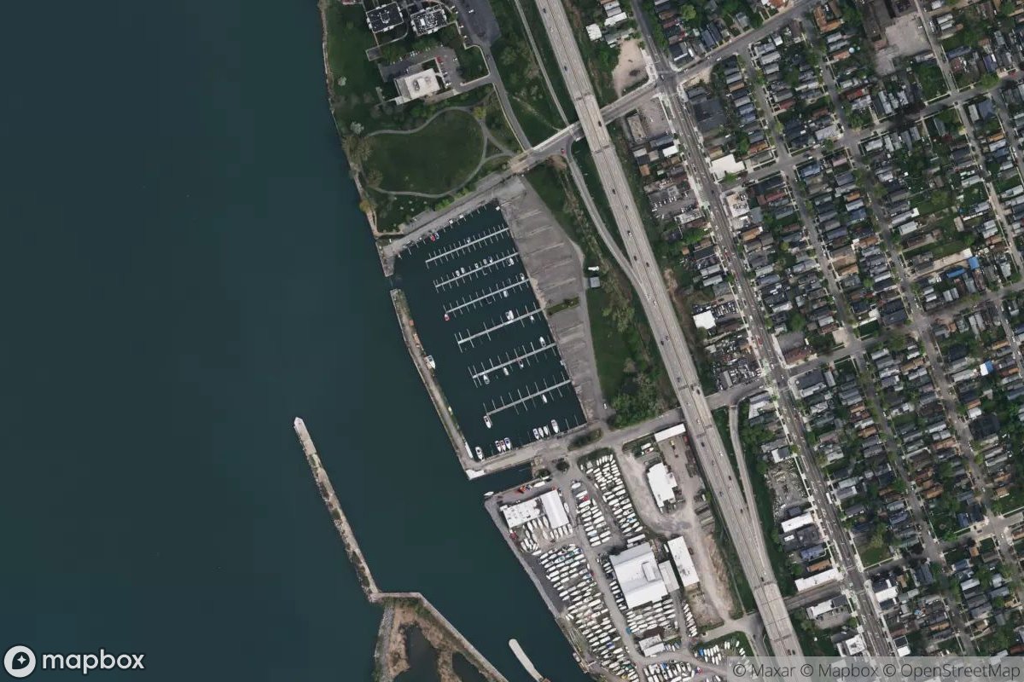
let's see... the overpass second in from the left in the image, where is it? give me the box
[676,381,716,437]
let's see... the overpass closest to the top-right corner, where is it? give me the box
[573,91,613,155]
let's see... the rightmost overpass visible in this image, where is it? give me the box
[753,582,795,644]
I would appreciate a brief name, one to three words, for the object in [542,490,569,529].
building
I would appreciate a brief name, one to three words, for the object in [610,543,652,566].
building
